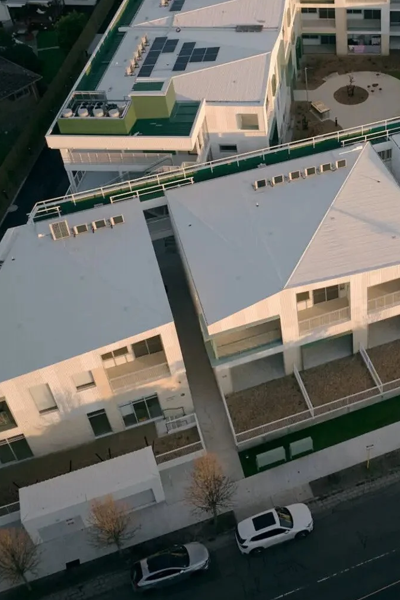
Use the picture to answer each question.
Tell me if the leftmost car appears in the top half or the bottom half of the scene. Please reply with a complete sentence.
The leftmost car sits in the bottom half of the picture.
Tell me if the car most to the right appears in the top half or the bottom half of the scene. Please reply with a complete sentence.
The bottom half of the photo is where the car most to the right is.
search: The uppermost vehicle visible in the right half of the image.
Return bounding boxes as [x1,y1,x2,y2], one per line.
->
[236,506,314,561]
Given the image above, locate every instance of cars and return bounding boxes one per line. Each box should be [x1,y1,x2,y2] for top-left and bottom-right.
[236,506,314,561]
[129,544,211,600]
